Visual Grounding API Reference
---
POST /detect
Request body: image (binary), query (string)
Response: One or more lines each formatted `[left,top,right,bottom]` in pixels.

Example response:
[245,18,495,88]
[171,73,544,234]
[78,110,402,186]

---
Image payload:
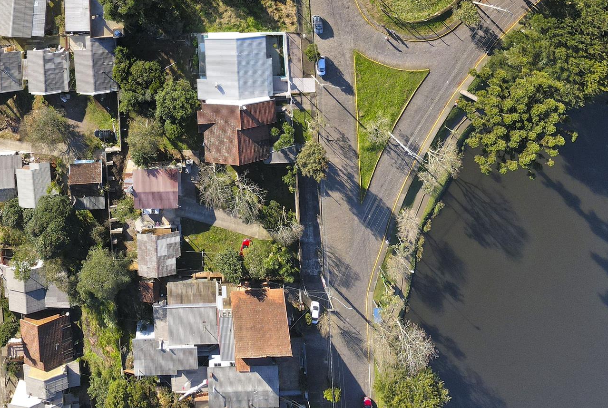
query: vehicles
[313,14,325,36]
[363,398,374,408]
[309,302,321,327]
[94,131,114,143]
[316,55,327,76]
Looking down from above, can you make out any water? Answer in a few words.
Yes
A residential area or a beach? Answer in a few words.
residential area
